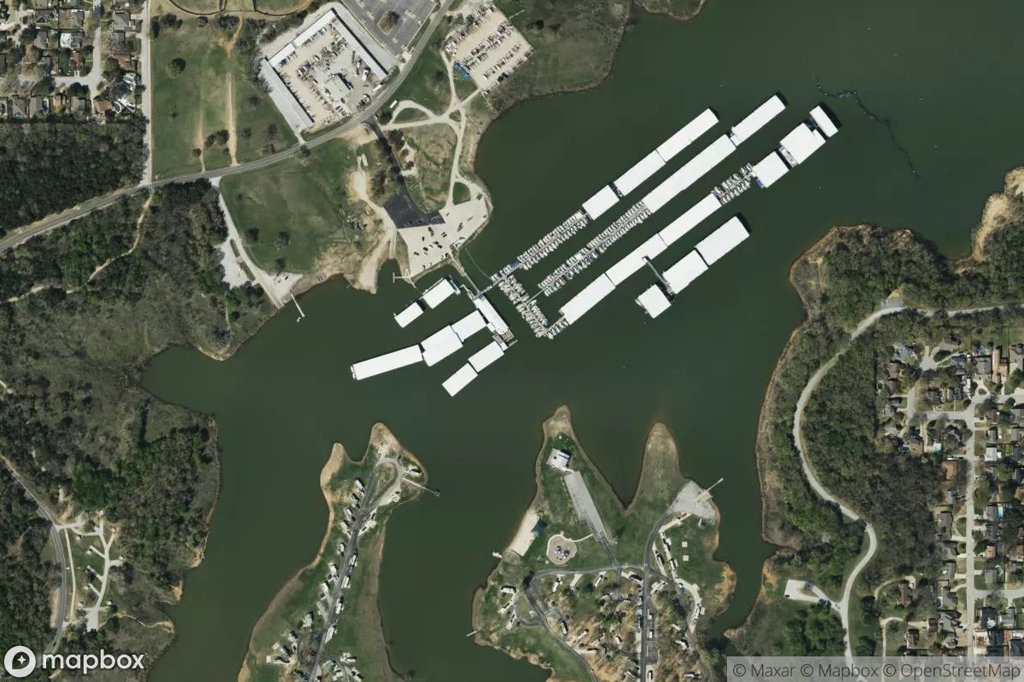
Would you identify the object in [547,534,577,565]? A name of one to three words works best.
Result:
playground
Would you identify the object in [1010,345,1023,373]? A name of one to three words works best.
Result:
house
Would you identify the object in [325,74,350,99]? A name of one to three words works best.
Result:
building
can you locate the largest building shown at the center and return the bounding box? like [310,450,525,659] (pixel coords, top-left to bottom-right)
[474,295,509,335]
